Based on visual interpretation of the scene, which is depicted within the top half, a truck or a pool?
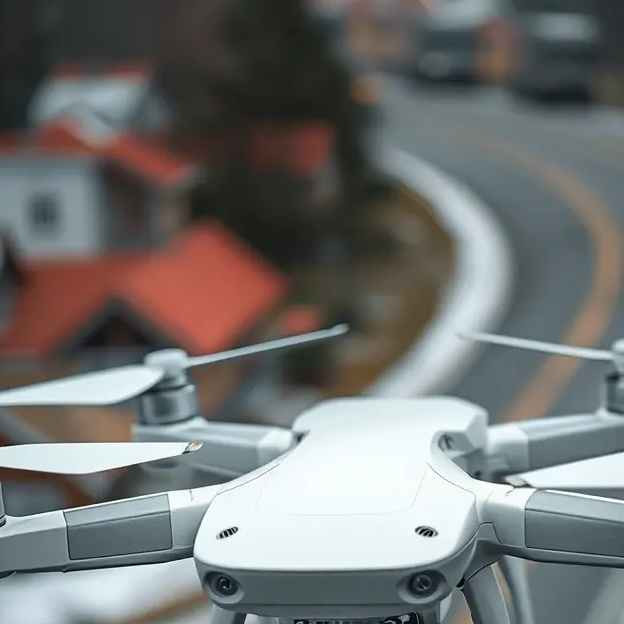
truck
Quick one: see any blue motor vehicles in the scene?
No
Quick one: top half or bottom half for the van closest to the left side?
top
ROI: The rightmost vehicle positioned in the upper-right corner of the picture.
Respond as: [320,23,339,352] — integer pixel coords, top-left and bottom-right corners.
[504,12,602,98]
